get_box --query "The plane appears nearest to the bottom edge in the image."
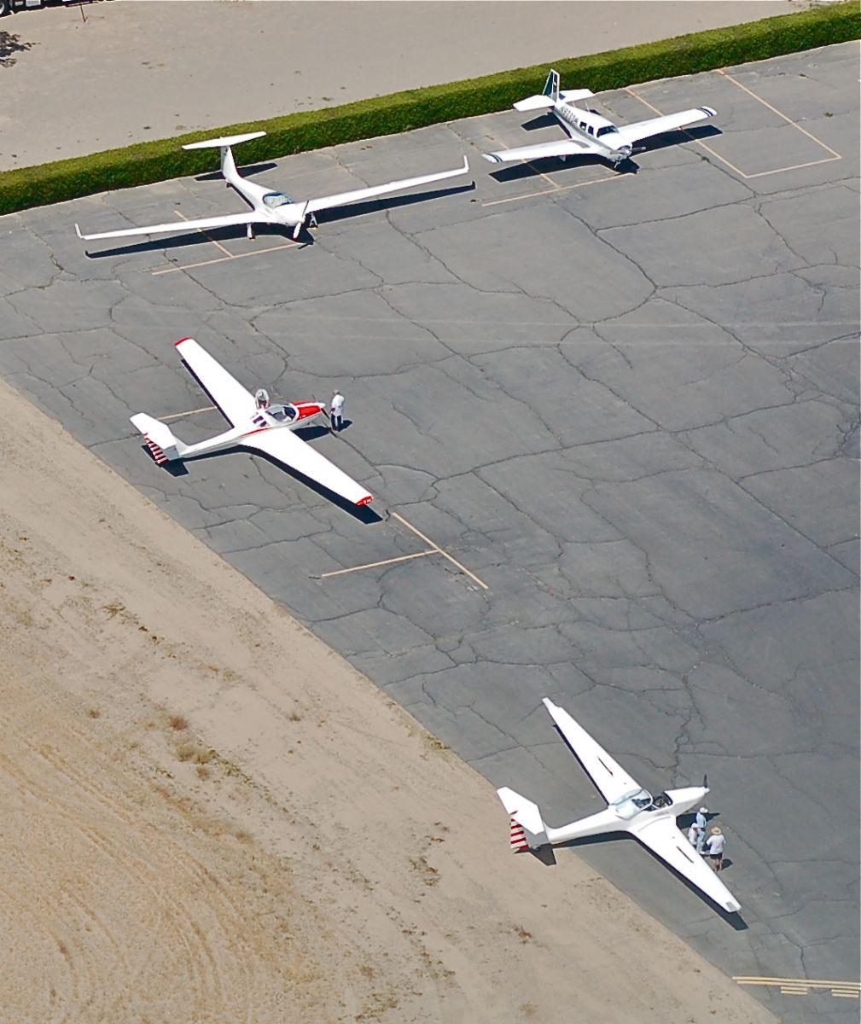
[496,700,744,910]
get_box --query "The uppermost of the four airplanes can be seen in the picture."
[478,68,717,174]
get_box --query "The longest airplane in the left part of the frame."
[73,133,471,244]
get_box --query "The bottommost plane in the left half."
[128,339,372,504]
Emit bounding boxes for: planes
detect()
[496,700,744,910]
[128,339,372,504]
[478,68,717,174]
[73,133,471,244]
